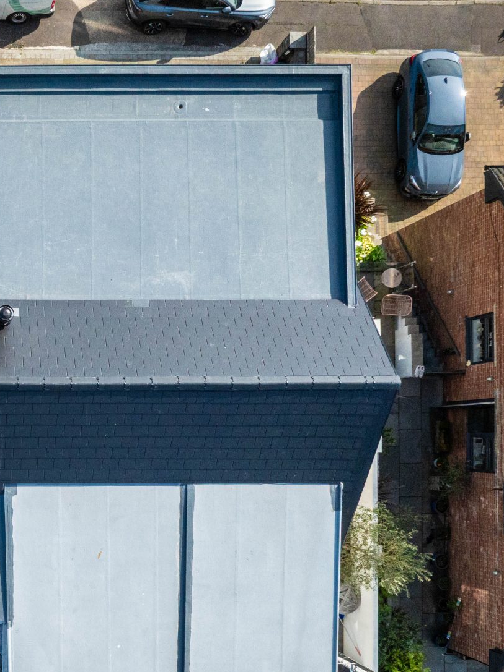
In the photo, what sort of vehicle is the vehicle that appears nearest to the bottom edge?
automobile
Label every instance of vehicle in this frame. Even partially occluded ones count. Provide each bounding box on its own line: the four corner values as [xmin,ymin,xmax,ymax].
[389,43,478,207]
[0,0,55,21]
[123,0,278,34]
